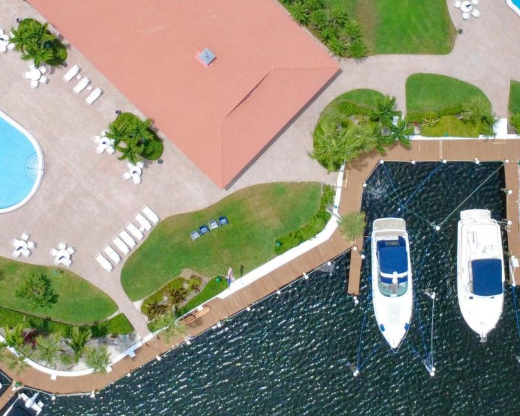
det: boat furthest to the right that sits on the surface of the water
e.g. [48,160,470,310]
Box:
[454,206,503,344]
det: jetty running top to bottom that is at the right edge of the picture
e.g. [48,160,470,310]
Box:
[504,161,520,285]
